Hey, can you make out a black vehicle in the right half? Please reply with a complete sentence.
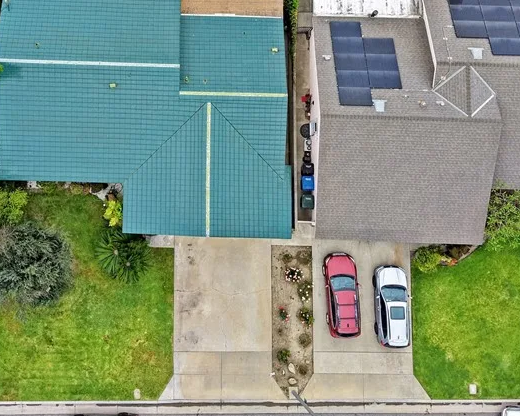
No, looking in the right half, there is no black vehicle.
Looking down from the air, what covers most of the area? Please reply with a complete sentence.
Most of the picture is covered by buildings.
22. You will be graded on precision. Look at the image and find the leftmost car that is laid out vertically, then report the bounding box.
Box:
[322,252,362,340]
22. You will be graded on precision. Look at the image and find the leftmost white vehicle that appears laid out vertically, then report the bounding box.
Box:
[372,264,413,350]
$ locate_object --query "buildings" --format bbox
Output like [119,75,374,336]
[0,0,292,239]
[308,0,520,245]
